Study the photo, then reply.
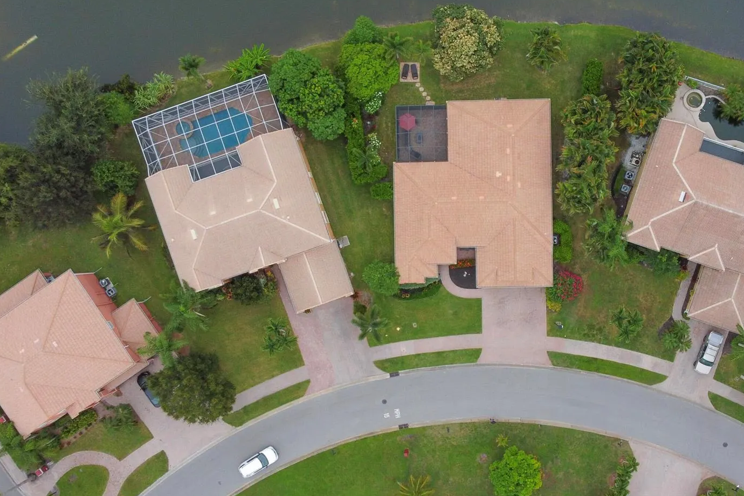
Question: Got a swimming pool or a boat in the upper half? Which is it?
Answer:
swimming pool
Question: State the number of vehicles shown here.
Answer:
3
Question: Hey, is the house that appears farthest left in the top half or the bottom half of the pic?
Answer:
bottom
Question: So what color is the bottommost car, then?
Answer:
white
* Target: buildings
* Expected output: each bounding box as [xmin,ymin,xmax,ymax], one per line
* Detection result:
[623,118,744,332]
[392,98,554,289]
[0,267,171,440]
[144,127,355,315]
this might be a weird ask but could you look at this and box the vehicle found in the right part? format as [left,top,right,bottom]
[693,330,725,374]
